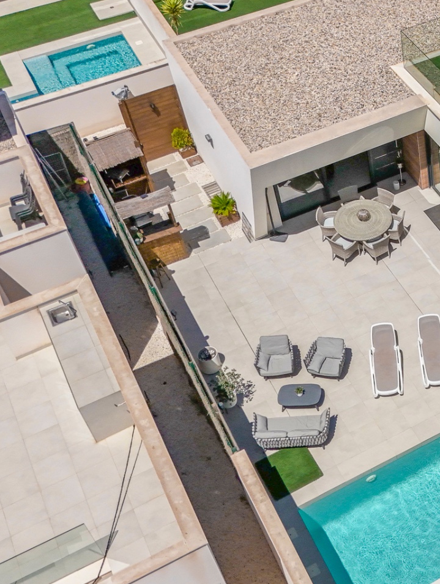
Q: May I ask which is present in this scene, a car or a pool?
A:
pool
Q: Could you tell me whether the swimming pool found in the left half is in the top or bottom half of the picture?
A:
top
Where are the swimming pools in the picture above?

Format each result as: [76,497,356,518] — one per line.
[12,34,139,102]
[299,436,440,584]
